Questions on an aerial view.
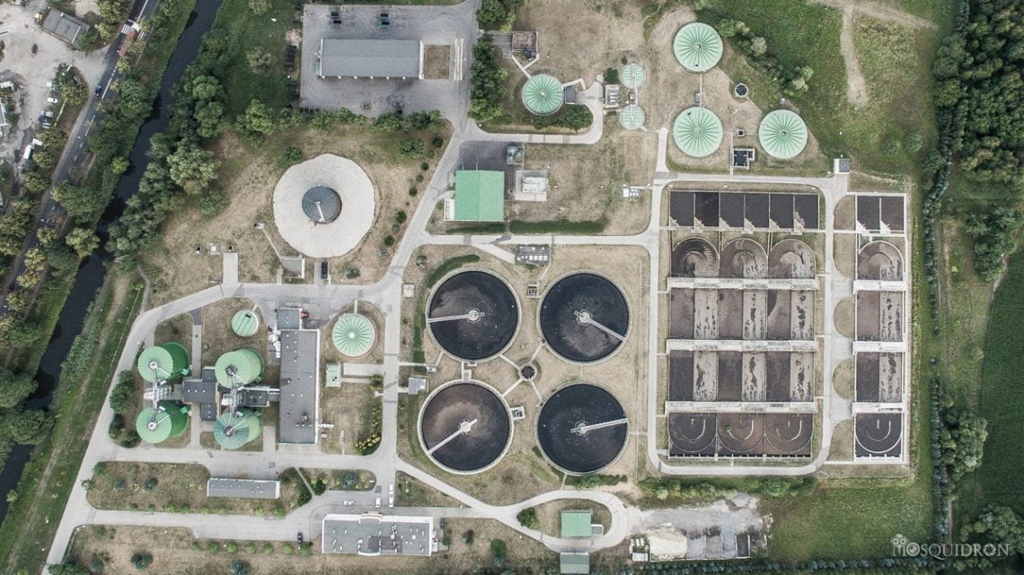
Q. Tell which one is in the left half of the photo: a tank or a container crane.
tank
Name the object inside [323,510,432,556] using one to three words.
building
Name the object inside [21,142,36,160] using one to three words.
vehicle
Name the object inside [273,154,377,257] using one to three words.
storage tank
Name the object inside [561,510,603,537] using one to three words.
shed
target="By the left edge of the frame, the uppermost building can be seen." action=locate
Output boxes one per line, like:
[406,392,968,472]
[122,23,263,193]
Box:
[43,8,95,46]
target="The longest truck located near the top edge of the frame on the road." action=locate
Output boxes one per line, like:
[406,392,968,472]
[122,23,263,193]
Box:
[118,23,140,56]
